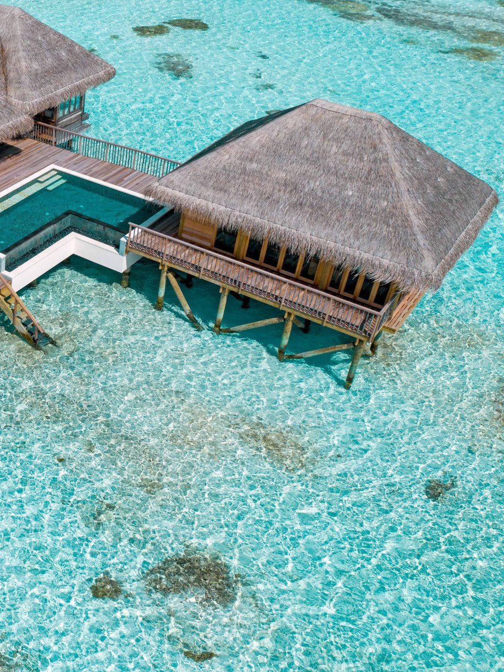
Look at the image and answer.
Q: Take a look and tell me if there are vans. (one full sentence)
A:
No, the scene contains no van.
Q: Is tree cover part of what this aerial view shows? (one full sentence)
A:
No, the picture contains no tree cover.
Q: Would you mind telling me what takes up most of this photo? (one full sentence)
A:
The scene is dominated by water.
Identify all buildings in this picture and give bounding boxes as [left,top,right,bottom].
[0,2,114,149]
[132,98,504,384]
